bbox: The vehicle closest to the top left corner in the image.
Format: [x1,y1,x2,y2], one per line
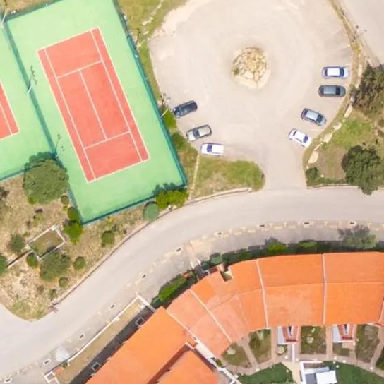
[171,99,198,119]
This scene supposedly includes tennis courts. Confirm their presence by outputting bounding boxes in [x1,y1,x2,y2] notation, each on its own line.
[0,0,59,177]
[9,0,192,223]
